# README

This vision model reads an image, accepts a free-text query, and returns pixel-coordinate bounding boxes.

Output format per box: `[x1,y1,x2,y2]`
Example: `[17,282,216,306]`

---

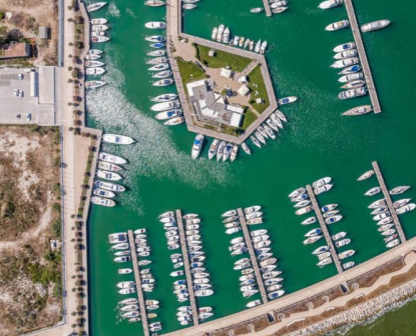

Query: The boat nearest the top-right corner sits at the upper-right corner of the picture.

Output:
[355,20,391,34]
